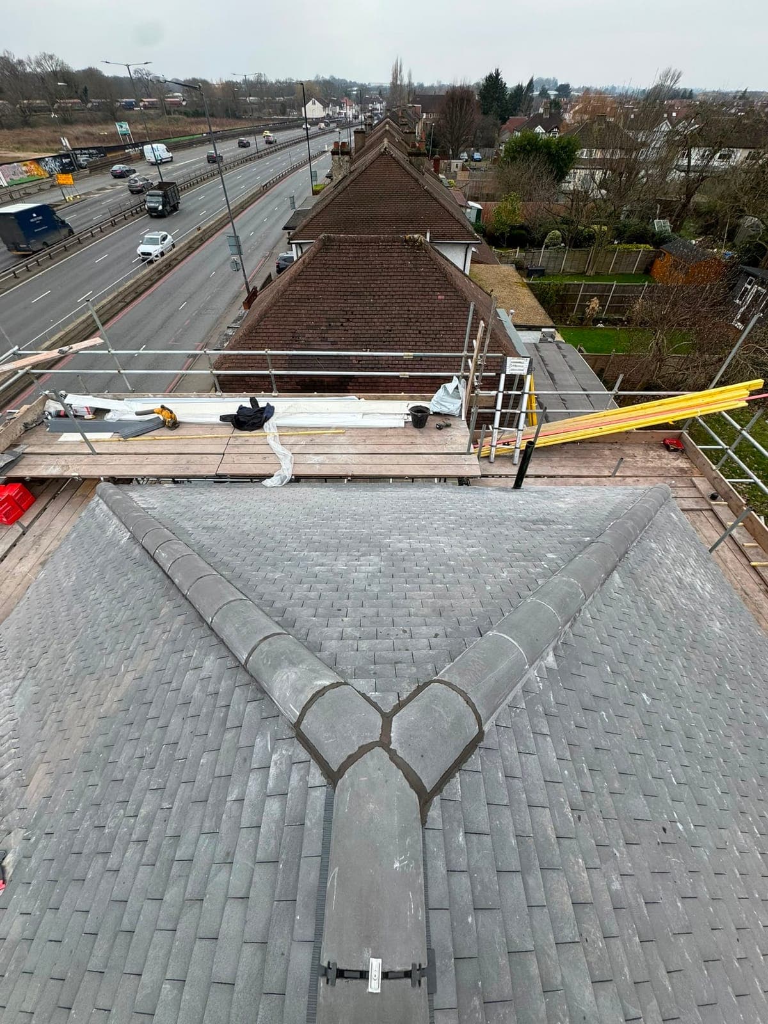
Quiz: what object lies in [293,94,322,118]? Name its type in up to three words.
house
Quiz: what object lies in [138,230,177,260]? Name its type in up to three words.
car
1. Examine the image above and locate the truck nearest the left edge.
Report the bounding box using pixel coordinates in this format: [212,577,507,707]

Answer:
[0,202,70,250]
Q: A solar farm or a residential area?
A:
residential area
